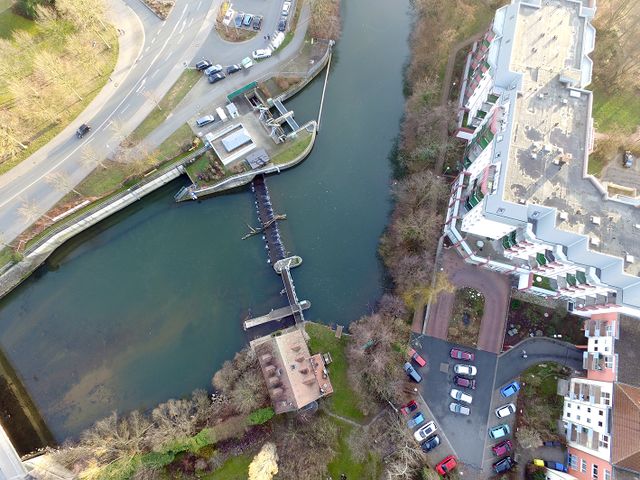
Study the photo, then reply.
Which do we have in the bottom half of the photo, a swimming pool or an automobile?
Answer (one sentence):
The one visible in the bottom half of the photo is an automobile.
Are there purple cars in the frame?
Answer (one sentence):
Yes, the photo shows a purple car.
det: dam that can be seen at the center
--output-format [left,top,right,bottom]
[254,178,286,265]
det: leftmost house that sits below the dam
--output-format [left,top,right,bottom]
[254,329,334,416]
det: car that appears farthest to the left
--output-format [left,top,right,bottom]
[73,122,93,138]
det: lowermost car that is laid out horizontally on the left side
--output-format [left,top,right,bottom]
[194,114,216,127]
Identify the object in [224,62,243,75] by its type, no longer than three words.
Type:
vehicle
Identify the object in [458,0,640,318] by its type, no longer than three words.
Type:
building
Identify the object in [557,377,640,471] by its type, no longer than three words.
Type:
house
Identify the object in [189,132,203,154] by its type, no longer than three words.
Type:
work vehicle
